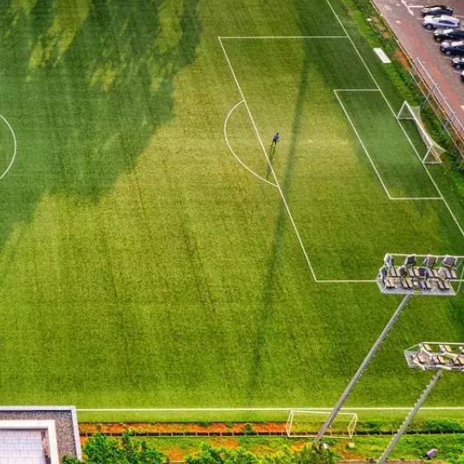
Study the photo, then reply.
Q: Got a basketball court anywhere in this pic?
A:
No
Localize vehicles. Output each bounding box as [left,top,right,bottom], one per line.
[420,1,460,16]
[449,55,464,72]
[435,26,464,42]
[439,40,464,56]
[423,14,464,28]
